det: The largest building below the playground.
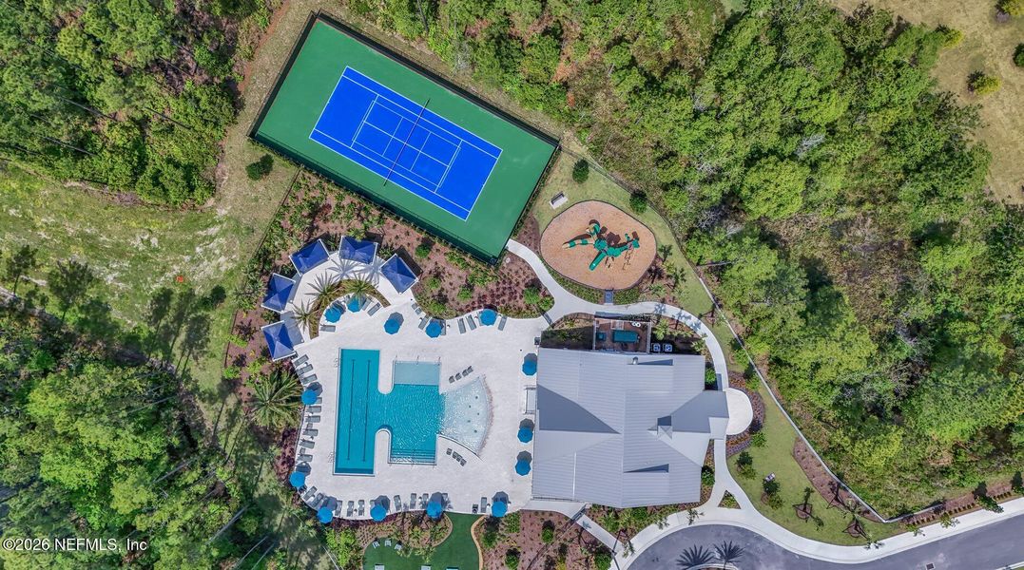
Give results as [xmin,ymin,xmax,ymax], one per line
[531,348,729,508]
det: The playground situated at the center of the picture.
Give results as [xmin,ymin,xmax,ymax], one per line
[540,199,658,291]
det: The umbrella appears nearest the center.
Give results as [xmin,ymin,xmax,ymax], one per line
[480,308,496,324]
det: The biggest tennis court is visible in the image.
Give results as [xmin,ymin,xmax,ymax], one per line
[253,17,558,262]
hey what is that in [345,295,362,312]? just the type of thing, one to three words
umbrella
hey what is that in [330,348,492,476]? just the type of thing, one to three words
swimming pool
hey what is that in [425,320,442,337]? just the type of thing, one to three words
umbrella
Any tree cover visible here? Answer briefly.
Yes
